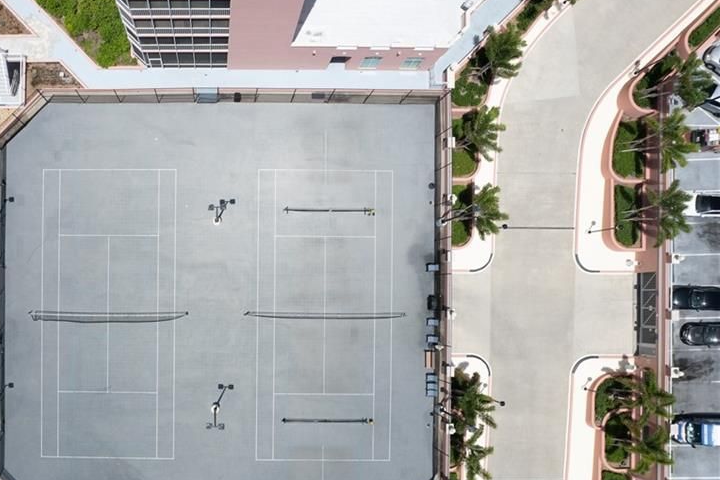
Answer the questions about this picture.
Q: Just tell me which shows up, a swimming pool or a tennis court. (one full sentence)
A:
The one in the frame is a tennis court.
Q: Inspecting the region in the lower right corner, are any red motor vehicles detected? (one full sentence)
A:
No, I can find no red motor vehicle in the lower right corner.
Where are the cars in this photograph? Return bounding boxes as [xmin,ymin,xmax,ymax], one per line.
[682,190,720,217]
[674,285,720,311]
[674,419,720,446]
[698,43,720,78]
[678,320,720,346]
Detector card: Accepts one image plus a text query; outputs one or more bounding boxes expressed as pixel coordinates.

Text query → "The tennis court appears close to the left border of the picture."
[0,102,216,480]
